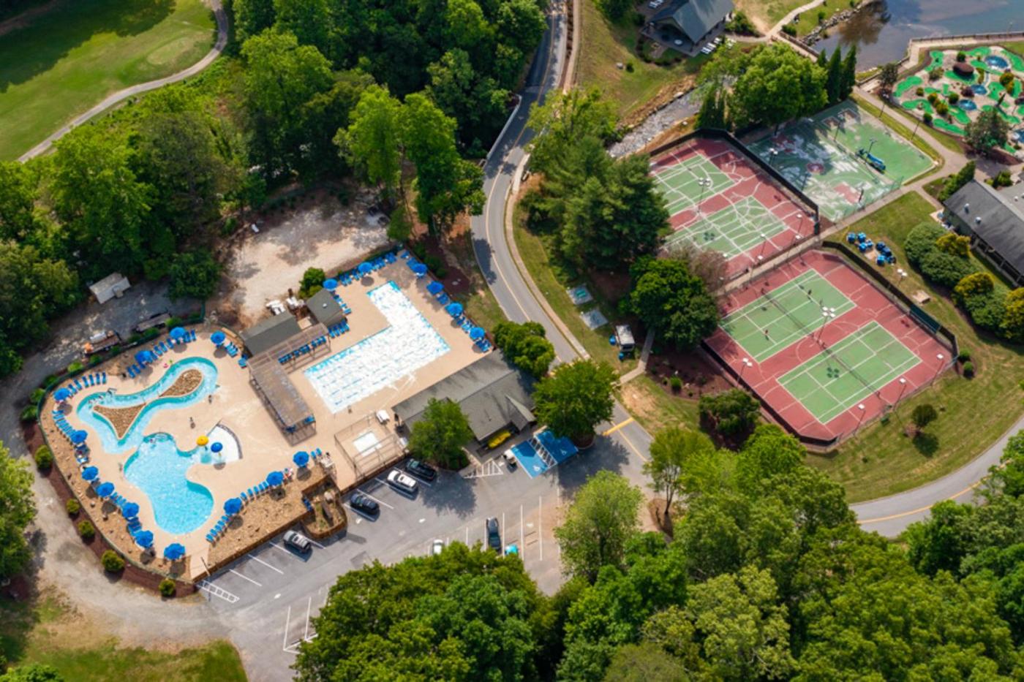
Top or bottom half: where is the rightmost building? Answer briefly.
top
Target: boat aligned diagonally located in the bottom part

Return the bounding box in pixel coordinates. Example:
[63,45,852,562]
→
[480,429,512,451]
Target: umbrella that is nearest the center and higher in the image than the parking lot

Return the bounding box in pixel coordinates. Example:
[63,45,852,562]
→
[470,328,485,342]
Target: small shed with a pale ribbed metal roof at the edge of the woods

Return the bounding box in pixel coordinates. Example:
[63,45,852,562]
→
[86,271,132,309]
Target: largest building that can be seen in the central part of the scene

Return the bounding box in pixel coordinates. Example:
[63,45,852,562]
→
[392,348,539,438]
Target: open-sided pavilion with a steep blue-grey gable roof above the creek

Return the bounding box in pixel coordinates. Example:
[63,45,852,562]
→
[646,0,743,62]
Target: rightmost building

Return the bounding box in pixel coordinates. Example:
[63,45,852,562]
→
[946,182,1024,277]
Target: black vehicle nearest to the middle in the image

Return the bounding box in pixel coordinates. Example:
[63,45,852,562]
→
[405,459,436,481]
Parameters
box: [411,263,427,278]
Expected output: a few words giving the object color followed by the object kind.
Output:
blue umbrella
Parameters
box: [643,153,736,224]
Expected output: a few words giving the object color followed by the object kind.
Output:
green tennis court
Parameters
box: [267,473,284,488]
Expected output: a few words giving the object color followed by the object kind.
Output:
blue umbrella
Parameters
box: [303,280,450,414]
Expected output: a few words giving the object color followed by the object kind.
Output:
white swimming pool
